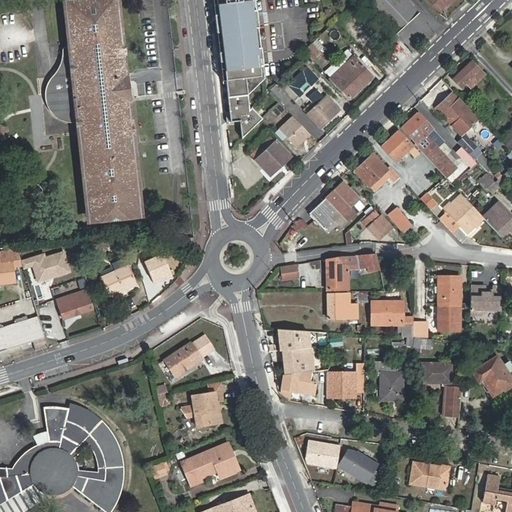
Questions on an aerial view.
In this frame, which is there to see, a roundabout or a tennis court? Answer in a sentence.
Visible in the photo is a roundabout.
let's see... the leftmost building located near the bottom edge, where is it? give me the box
[0,403,123,512]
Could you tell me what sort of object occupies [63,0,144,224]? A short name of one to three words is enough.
building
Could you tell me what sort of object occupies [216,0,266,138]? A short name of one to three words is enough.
building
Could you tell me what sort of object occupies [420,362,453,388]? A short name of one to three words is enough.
house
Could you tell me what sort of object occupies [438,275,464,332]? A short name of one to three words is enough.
house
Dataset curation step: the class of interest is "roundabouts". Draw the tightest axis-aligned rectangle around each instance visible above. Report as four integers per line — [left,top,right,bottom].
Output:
[192,211,270,302]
